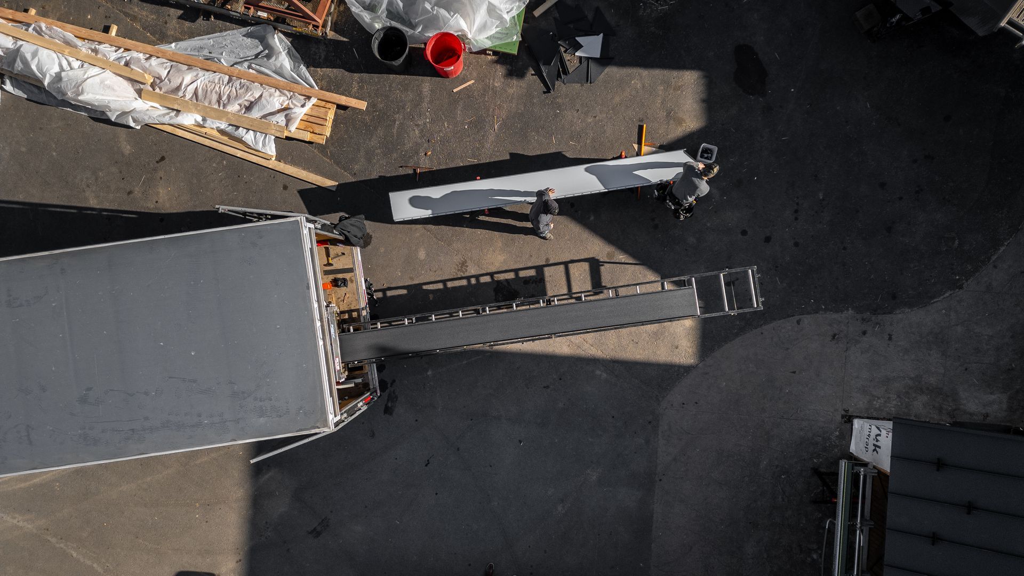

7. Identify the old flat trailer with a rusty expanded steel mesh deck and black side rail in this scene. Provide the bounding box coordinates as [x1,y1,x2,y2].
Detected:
[148,0,337,40]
